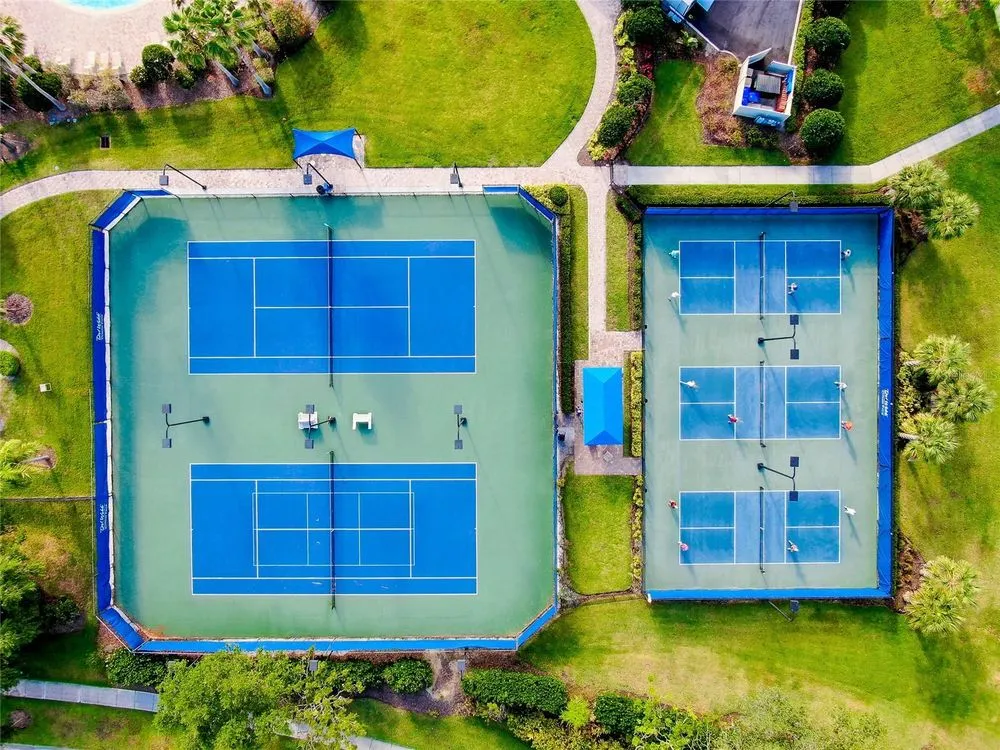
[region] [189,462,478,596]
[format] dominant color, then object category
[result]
blue tennis court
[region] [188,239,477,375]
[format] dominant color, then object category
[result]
blue tennis court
